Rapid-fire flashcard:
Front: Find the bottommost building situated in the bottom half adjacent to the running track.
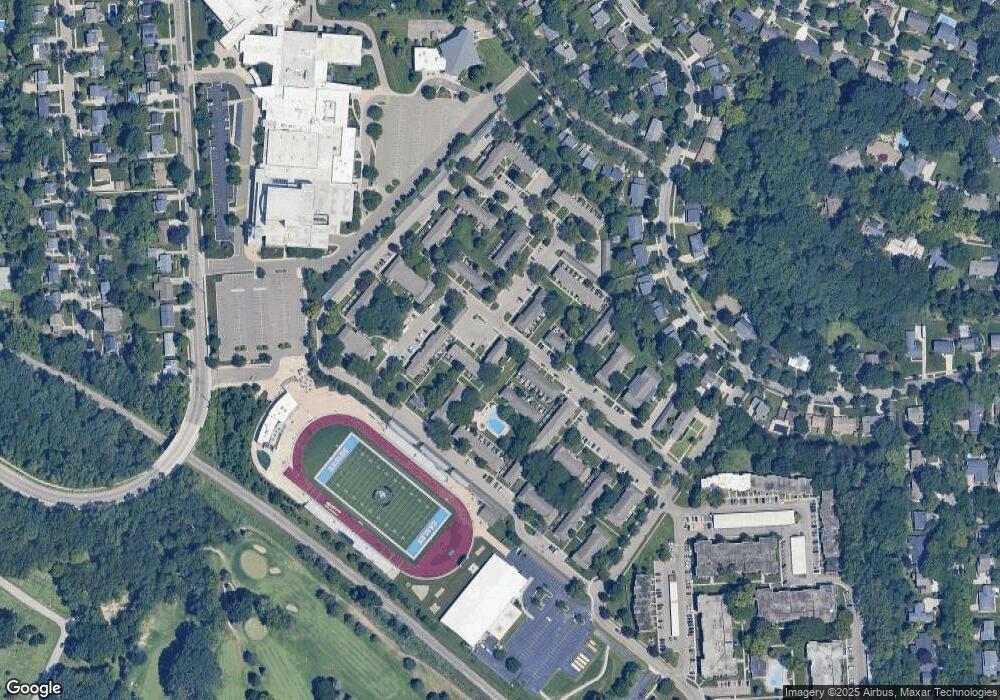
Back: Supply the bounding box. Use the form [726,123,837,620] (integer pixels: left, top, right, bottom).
[439,555,534,647]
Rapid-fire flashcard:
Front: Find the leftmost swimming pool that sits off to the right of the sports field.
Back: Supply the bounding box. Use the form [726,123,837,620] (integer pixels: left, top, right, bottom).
[472,401,510,438]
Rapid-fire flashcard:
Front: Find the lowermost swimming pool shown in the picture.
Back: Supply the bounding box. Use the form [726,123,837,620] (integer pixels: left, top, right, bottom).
[766,657,790,696]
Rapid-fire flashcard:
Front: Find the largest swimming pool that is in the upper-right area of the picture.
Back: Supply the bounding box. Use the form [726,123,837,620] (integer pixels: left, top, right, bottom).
[866,132,909,164]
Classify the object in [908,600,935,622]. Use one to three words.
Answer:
house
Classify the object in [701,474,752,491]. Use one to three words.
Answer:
building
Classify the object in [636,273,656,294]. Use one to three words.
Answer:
house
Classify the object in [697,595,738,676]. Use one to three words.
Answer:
building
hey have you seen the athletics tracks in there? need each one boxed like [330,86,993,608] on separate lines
[282,413,474,579]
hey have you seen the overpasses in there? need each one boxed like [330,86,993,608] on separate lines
[154,413,205,472]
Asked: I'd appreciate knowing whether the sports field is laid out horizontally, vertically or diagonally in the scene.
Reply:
diagonally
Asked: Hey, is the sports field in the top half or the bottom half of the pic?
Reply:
bottom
